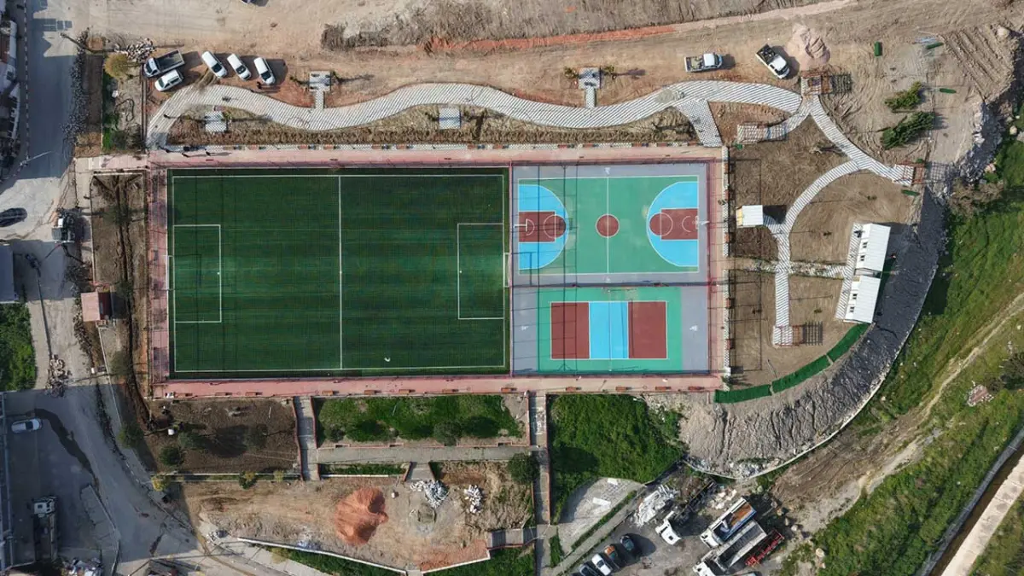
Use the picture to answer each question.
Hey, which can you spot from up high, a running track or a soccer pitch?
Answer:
soccer pitch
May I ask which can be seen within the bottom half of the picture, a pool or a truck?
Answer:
truck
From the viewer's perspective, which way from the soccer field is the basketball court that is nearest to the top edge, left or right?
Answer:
to its right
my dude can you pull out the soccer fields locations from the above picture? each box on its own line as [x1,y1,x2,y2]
[166,163,510,379]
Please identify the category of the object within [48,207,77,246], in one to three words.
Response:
work vehicle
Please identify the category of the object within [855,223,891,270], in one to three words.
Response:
building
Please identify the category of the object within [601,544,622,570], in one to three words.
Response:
car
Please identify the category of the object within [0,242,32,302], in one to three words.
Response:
building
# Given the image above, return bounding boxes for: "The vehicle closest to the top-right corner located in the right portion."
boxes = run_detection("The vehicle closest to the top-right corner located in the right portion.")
[758,45,788,79]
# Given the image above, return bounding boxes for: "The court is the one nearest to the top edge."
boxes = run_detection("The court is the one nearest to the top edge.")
[512,163,709,285]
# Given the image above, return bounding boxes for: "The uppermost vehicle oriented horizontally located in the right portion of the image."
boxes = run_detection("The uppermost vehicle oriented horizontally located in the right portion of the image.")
[685,54,721,71]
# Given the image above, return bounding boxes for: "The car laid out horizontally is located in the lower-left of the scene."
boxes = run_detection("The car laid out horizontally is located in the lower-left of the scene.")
[11,418,42,432]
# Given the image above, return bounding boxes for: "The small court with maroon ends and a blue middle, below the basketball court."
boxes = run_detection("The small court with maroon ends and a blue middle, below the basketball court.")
[512,286,710,375]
